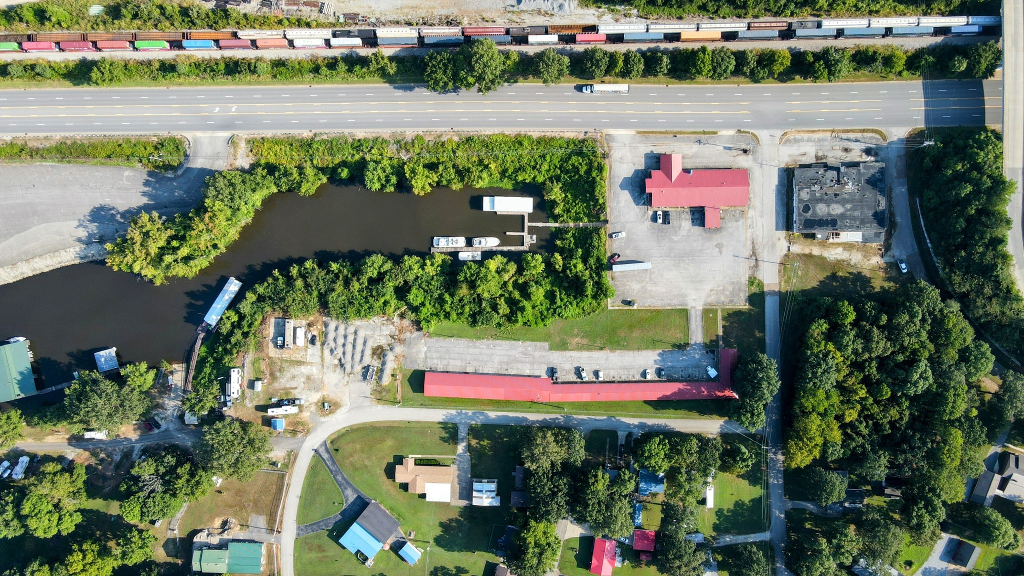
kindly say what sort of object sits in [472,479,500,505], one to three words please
building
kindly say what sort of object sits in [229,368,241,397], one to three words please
vehicle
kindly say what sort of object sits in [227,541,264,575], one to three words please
building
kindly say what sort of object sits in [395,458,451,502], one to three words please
house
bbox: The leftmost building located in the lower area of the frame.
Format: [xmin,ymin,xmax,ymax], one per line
[0,339,44,406]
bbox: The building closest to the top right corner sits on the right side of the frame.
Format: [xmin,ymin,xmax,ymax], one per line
[791,162,886,244]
